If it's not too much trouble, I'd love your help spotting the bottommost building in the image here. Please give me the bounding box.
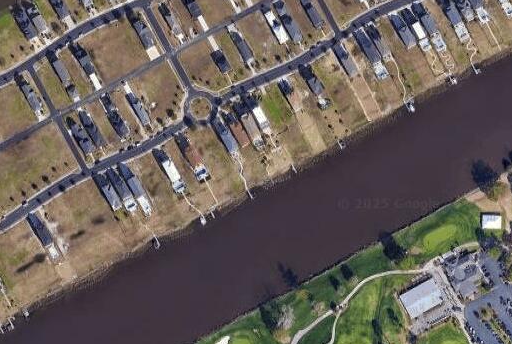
[400,279,445,318]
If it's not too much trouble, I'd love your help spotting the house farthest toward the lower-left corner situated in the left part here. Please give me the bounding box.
[27,215,55,249]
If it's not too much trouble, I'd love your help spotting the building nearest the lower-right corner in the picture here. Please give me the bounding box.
[446,256,490,300]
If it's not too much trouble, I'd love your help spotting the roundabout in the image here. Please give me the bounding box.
[179,88,220,129]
